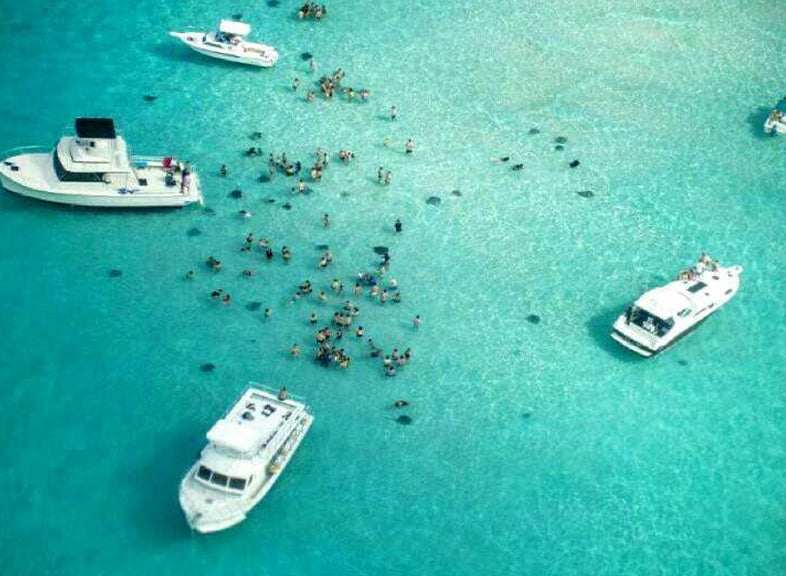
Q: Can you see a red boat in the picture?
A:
No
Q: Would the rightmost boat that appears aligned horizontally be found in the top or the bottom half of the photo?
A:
top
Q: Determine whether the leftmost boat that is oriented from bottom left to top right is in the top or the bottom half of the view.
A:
bottom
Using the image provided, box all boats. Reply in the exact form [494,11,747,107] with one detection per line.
[166,22,280,71]
[183,378,316,538]
[764,90,786,141]
[610,253,748,363]
[0,121,210,207]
